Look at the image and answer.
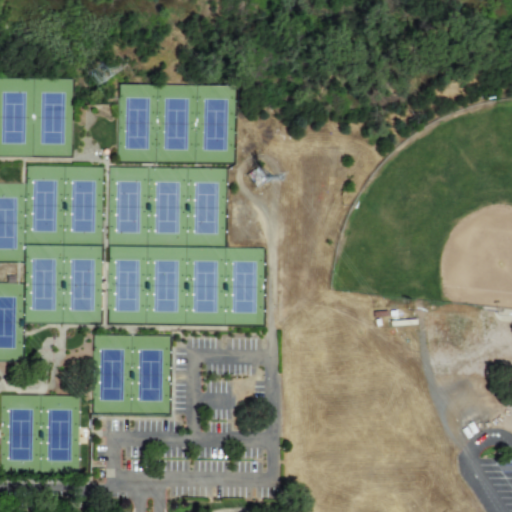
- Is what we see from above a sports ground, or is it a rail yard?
sports ground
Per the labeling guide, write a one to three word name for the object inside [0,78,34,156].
tennis court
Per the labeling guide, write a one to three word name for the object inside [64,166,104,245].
tennis court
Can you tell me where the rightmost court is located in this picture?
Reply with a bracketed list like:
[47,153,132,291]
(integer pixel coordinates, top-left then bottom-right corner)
[226,247,266,325]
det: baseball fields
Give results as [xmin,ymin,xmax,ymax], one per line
[332,100,512,308]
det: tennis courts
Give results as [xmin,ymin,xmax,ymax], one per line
[156,85,198,162]
[0,78,34,156]
[0,395,41,472]
[110,168,148,246]
[41,395,81,473]
[148,246,187,324]
[186,246,226,324]
[120,84,158,162]
[26,166,66,244]
[109,246,148,324]
[64,245,103,323]
[187,168,226,246]
[64,166,104,245]
[148,168,188,246]
[132,336,171,414]
[93,336,132,414]
[226,247,266,325]
[0,183,26,262]
[26,244,64,323]
[34,79,74,156]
